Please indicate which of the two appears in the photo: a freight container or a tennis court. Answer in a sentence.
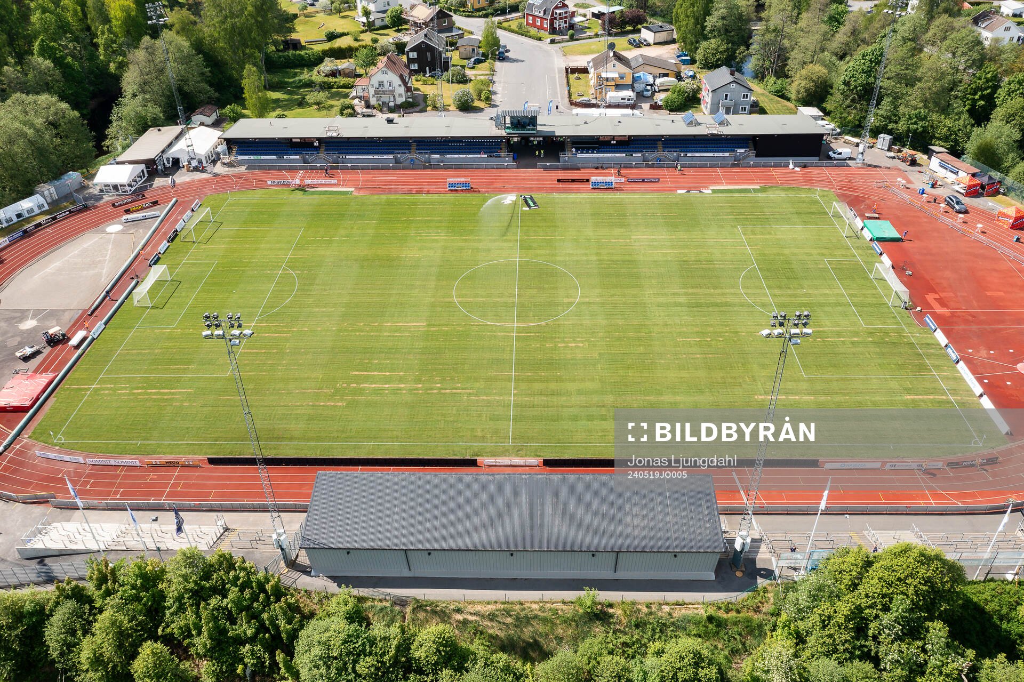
Visible in the photo is a freight container.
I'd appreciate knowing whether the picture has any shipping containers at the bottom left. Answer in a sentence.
No, there is no shipping container at the bottom left.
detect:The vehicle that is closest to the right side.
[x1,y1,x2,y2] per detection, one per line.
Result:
[941,195,973,212]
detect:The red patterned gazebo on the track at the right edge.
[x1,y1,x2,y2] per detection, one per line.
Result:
[992,202,1024,229]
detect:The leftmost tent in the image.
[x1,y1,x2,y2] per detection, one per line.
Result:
[0,188,48,229]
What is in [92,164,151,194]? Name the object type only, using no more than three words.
tent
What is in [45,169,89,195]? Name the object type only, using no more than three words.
shipping container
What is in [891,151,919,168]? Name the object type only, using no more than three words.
work vehicle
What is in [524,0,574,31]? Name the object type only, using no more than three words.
house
